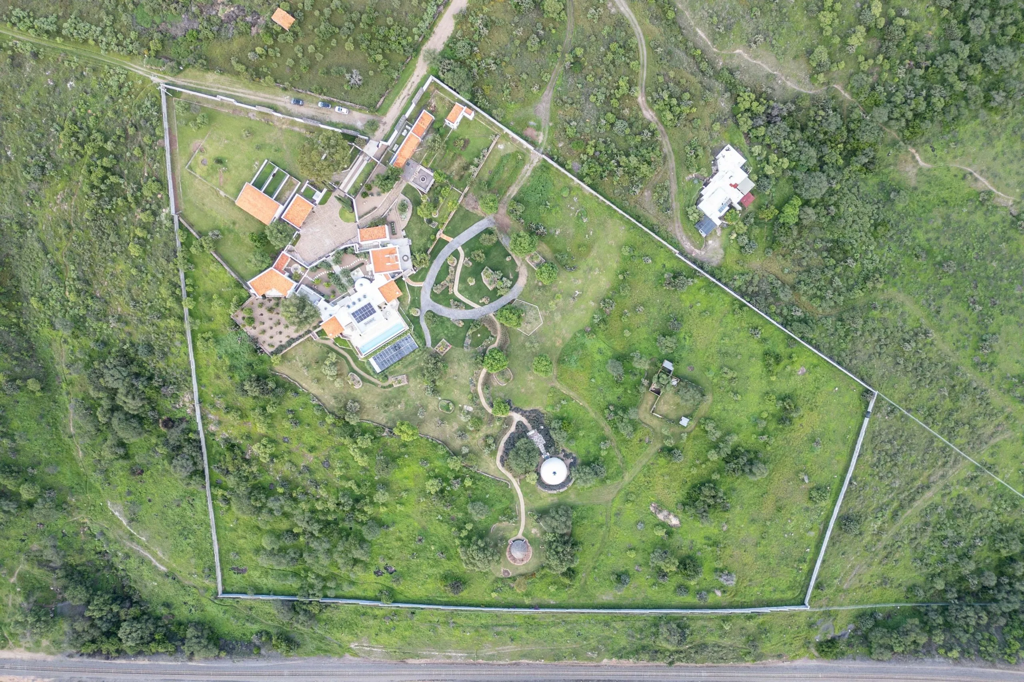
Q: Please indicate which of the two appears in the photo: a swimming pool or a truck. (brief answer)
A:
swimming pool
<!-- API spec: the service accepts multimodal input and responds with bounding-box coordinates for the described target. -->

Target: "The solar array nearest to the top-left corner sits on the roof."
[351,302,377,323]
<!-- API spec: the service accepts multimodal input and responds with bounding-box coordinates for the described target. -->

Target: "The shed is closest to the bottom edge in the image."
[506,539,532,565]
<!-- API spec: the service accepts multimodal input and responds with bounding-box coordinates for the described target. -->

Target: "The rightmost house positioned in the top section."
[693,144,755,238]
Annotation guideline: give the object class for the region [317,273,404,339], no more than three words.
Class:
house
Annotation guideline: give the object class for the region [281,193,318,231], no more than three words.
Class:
building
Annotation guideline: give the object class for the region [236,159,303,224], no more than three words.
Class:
barn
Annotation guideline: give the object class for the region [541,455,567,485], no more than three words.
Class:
shed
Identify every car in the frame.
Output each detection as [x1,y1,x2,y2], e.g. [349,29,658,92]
[290,97,303,105]
[335,106,348,113]
[317,101,331,108]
